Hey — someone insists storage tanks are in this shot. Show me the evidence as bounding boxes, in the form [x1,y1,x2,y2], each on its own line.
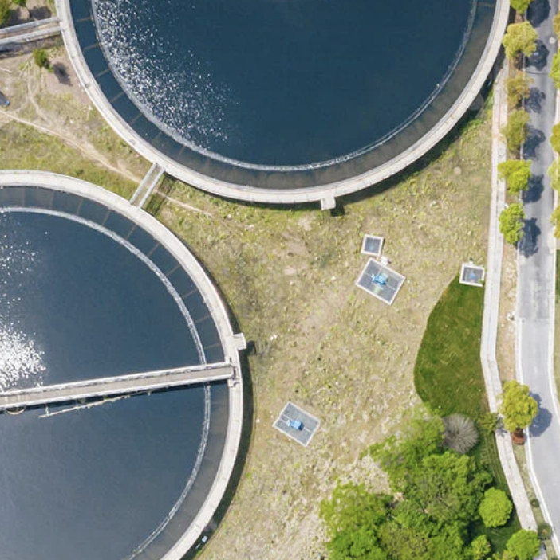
[0,170,248,560]
[57,0,510,215]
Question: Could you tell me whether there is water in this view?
Yes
